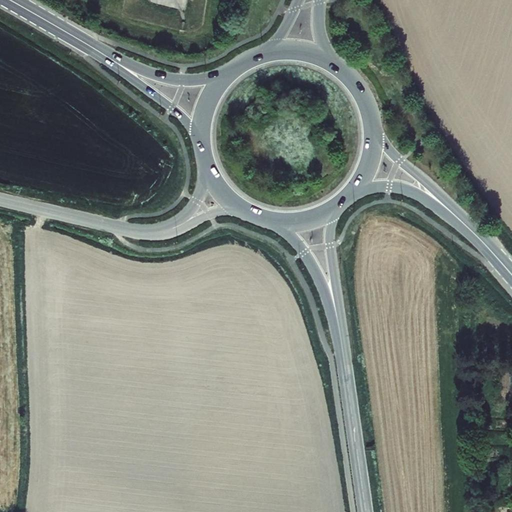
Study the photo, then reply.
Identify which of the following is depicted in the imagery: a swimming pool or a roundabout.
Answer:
roundabout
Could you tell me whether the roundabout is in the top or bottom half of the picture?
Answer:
top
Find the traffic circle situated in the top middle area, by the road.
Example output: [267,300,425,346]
[190,38,384,234]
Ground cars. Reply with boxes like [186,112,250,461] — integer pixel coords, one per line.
[338,196,345,207]
[253,54,264,60]
[173,108,183,118]
[356,81,365,92]
[252,206,263,214]
[208,72,218,77]
[354,174,362,185]
[112,53,123,62]
[364,138,370,148]
[196,140,204,152]
[154,71,166,78]
[329,63,340,72]
[146,88,156,97]
[104,58,114,66]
